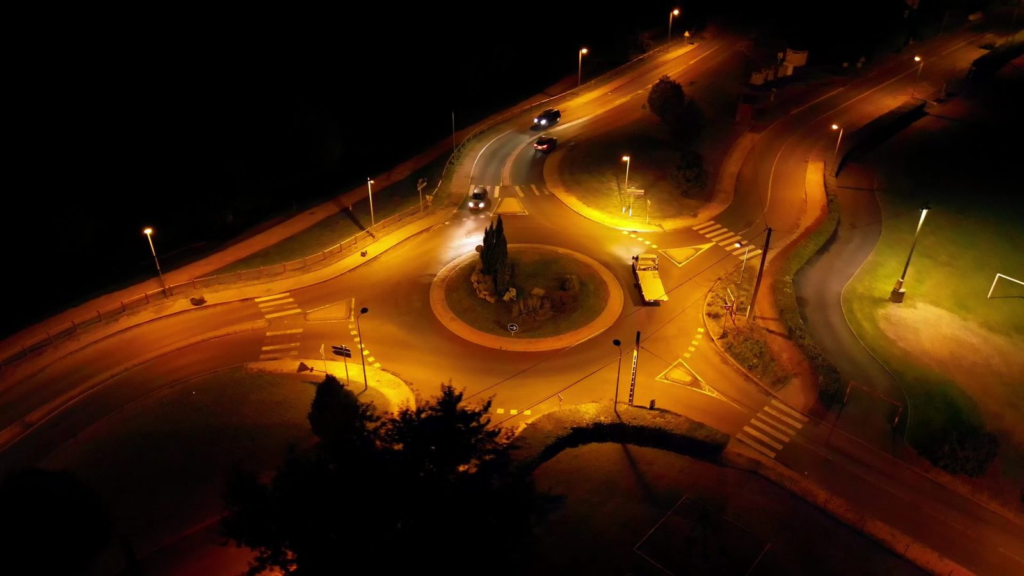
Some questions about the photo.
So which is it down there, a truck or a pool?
truck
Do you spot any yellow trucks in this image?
Yes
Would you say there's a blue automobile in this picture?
No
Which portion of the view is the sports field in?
right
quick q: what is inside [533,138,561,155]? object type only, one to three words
car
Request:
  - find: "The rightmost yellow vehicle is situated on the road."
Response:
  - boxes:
[629,251,670,305]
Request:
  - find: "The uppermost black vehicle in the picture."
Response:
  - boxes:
[533,110,563,129]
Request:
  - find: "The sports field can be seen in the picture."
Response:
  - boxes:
[842,88,1024,506]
